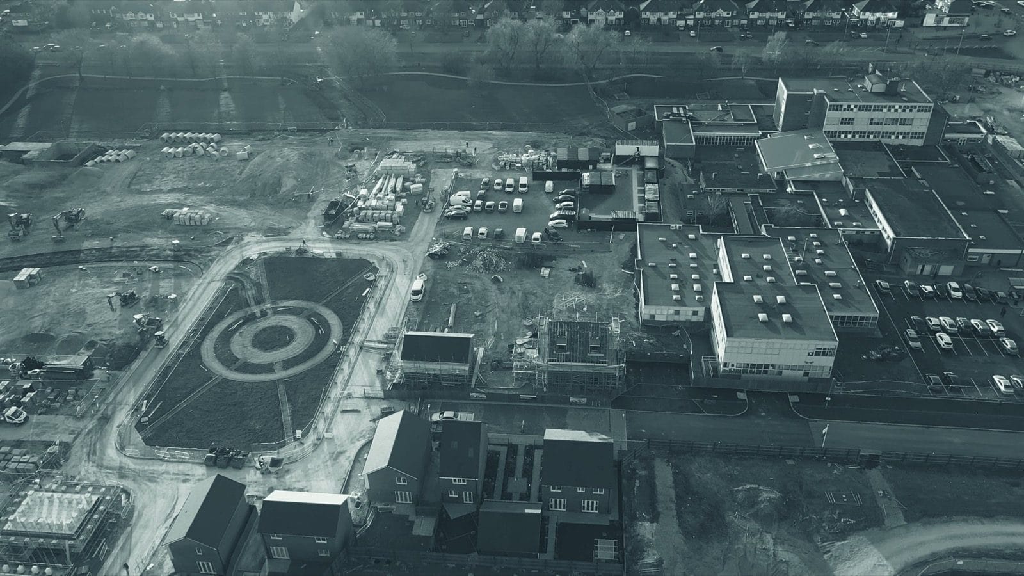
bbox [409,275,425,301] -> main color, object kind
white vehicle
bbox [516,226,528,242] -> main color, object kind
white vehicle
